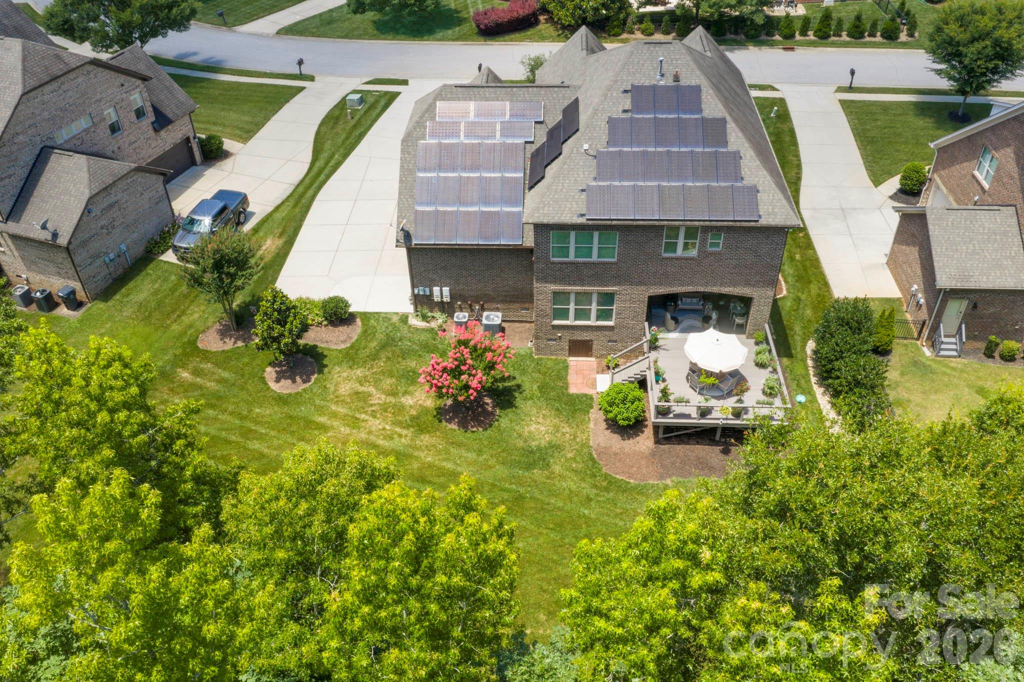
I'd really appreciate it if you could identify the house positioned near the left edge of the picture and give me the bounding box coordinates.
[0,0,202,302]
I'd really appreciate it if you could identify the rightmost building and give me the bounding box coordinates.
[882,101,1024,350]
